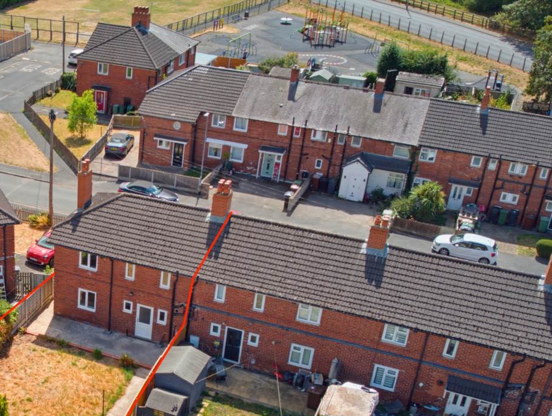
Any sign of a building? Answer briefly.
Yes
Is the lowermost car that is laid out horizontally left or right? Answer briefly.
right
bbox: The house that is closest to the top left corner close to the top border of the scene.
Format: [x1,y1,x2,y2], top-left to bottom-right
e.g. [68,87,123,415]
[75,0,200,113]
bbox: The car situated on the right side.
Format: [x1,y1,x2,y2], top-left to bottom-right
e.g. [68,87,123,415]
[437,232,497,261]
